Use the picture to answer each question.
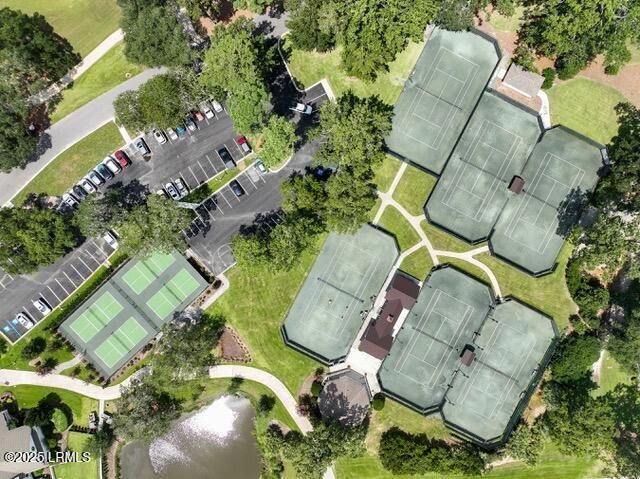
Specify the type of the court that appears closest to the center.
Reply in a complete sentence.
Specifically, the court that appears closest to the center is a tennis court.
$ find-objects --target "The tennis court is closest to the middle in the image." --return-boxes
[281,213,401,361]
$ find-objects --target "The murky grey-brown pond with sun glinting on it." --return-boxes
[119,394,262,479]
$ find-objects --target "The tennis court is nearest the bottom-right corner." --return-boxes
[441,294,561,443]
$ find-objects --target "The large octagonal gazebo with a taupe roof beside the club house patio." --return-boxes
[319,370,374,428]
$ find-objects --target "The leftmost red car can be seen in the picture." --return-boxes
[114,150,129,168]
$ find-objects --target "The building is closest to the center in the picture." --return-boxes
[358,268,421,360]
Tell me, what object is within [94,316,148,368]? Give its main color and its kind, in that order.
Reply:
green sports court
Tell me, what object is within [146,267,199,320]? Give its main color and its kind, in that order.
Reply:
green sports court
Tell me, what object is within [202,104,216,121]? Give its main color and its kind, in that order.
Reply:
white car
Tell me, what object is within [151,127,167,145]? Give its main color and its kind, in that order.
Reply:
white car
